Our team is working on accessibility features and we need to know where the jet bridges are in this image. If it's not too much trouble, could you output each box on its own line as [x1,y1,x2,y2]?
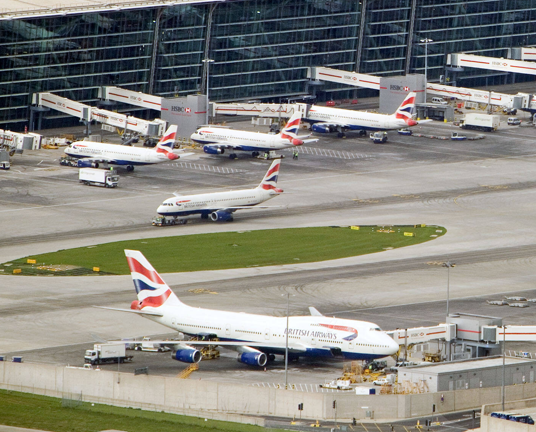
[100,105,174,147]
[0,130,42,161]
[387,323,463,365]
[419,83,536,119]
[204,102,312,135]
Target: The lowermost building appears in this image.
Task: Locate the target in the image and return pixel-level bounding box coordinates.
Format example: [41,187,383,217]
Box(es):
[403,354,536,392]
